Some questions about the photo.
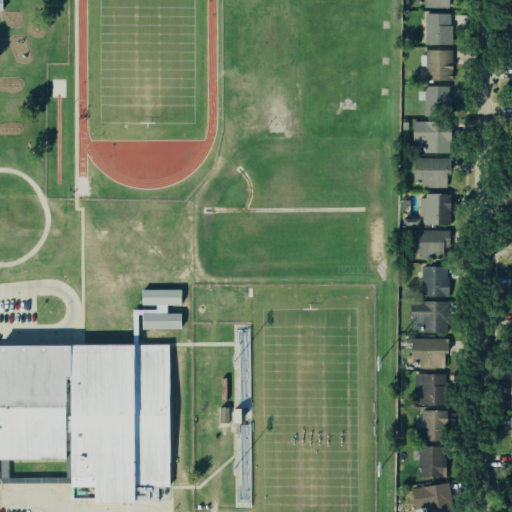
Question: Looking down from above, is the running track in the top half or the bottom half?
top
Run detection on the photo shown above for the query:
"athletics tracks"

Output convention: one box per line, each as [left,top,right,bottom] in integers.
[78,0,218,189]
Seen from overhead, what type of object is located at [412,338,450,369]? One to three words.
house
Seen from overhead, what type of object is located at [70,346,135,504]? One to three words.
building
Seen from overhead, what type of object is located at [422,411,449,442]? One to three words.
house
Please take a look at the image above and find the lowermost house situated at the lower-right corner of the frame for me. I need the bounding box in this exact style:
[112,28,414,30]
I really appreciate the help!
[412,483,453,512]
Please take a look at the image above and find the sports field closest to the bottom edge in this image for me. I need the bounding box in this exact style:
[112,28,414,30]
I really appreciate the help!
[263,309,358,512]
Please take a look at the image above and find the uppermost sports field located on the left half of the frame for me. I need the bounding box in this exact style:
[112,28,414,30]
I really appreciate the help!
[101,0,196,123]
